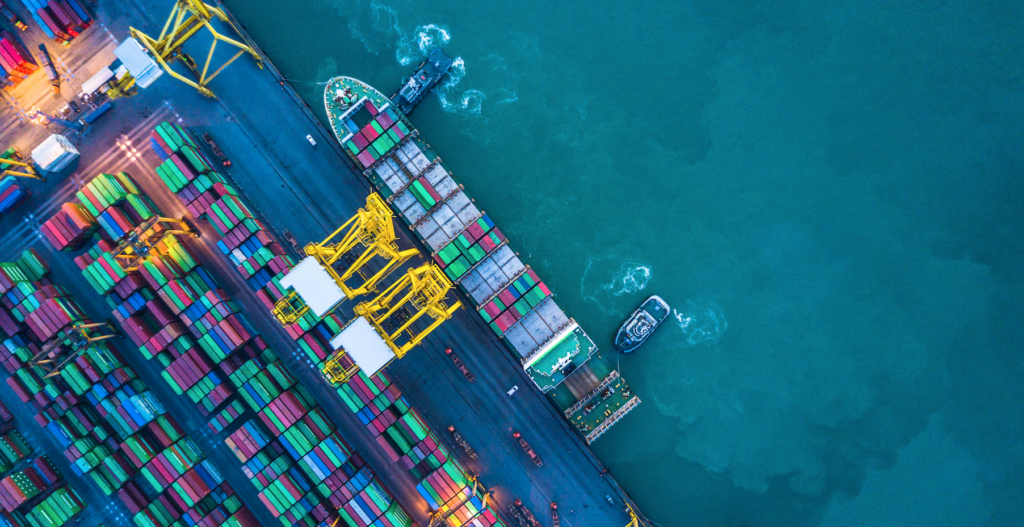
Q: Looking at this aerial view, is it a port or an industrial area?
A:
port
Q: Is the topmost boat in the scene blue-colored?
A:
Yes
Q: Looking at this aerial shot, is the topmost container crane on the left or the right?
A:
left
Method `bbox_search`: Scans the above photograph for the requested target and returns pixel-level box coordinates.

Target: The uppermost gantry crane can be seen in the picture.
[100,0,269,106]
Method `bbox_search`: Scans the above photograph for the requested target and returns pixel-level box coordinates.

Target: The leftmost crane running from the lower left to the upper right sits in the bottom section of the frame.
[30,318,124,382]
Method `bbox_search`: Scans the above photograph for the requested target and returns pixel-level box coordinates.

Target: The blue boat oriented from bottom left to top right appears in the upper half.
[389,48,452,115]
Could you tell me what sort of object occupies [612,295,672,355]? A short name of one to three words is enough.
boat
